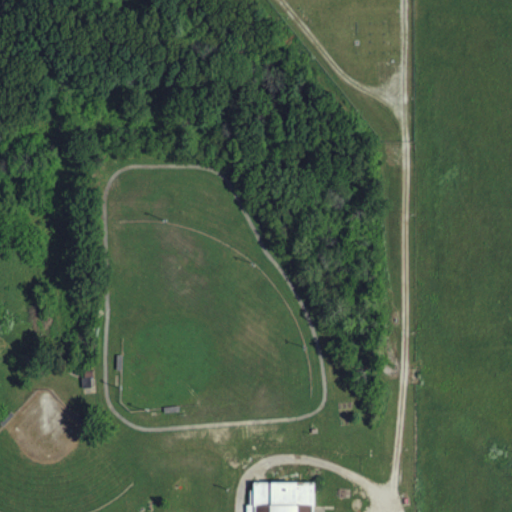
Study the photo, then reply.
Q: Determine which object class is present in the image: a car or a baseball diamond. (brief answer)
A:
baseball diamond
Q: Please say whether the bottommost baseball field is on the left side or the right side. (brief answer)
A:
left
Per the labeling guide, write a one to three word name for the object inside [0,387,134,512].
baseball field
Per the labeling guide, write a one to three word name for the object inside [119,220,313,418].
baseball field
